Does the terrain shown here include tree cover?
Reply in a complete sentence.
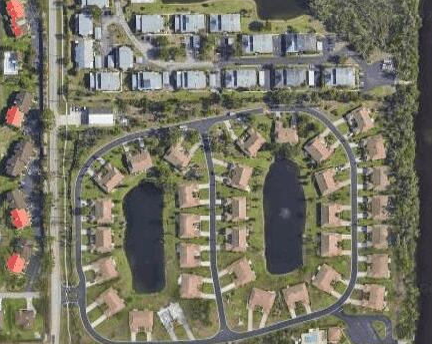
Yes, tree cover can be seen from above here.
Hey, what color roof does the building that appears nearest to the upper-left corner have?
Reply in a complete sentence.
From above, the roof of the building that appears nearest to the upper-left corner looks red.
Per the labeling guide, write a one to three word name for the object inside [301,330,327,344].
swimming pool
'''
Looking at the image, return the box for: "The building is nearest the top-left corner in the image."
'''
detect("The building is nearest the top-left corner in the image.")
[6,0,27,38]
